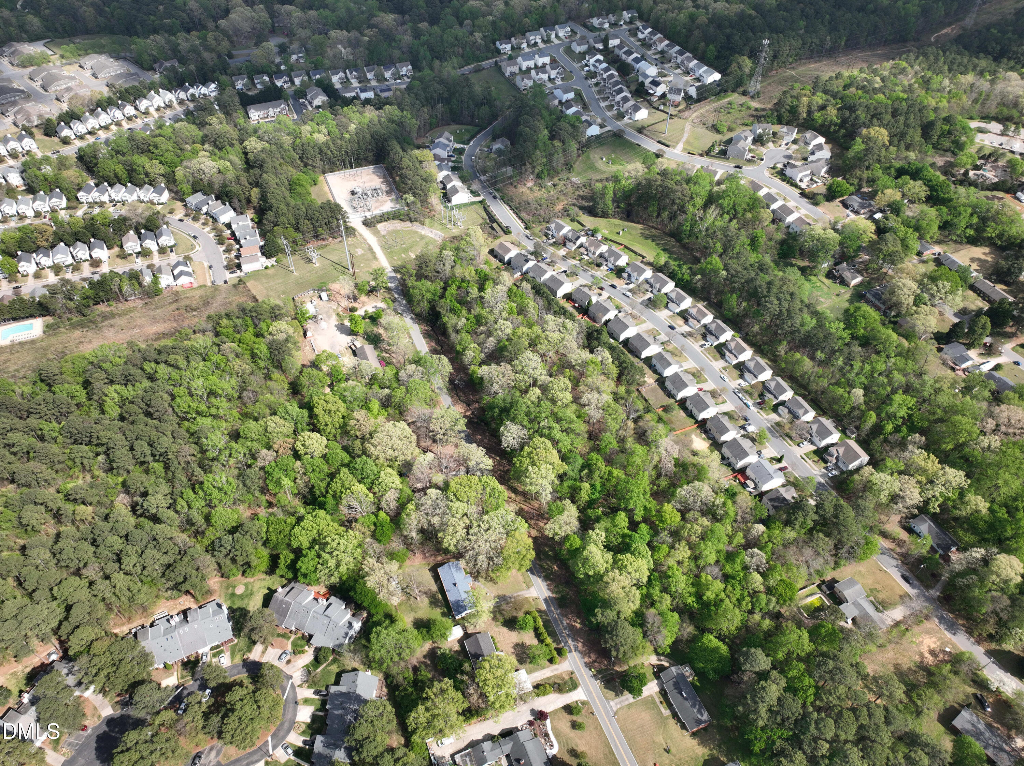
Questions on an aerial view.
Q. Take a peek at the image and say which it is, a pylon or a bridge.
pylon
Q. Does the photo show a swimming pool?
Yes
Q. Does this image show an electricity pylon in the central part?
No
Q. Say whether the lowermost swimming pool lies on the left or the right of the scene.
right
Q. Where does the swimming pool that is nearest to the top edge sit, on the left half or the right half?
left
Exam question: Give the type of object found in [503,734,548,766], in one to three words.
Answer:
house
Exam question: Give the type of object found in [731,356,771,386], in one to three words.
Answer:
house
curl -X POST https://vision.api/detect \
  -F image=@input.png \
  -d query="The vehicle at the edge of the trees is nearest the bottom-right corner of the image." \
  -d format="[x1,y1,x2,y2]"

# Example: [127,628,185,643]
[973,693,994,713]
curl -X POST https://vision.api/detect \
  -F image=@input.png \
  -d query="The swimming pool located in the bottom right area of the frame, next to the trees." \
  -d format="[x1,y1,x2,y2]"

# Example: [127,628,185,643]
[798,594,832,617]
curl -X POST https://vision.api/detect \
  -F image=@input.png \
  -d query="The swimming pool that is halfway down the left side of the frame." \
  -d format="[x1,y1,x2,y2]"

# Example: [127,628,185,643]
[0,318,43,345]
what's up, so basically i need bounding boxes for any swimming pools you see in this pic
[798,594,832,617]
[0,318,43,345]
